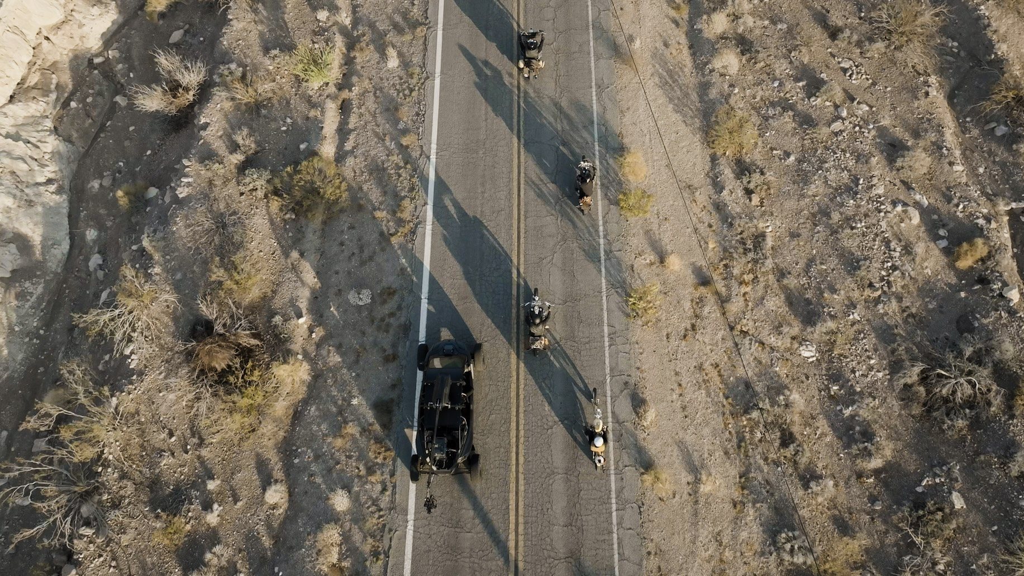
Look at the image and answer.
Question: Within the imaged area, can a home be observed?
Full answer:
No, the frame has no home in it.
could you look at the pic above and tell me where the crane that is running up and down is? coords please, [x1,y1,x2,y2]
[419,375,451,509]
